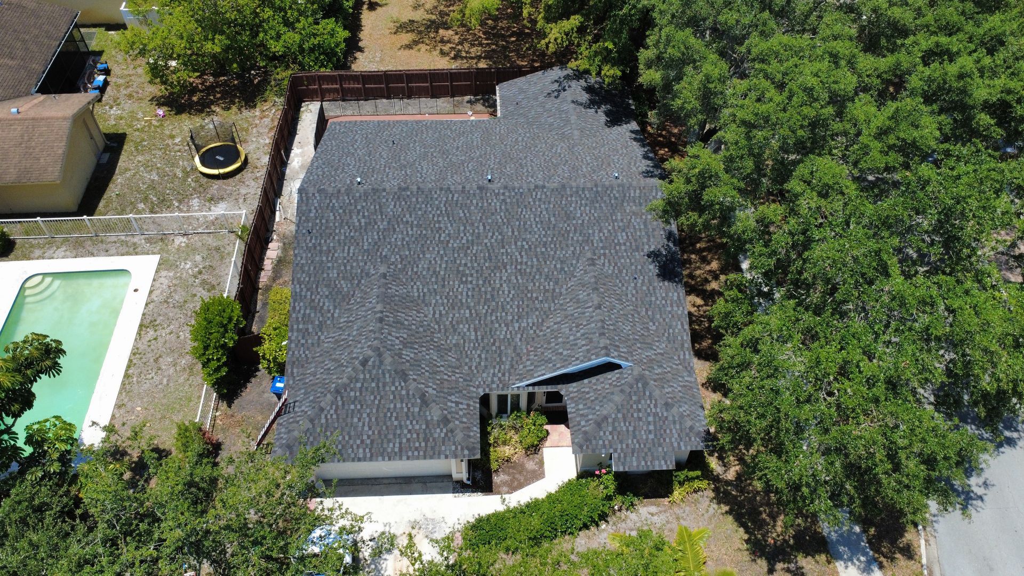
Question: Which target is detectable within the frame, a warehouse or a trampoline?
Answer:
trampoline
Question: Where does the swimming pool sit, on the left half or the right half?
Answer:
left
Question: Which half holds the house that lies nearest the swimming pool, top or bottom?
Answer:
top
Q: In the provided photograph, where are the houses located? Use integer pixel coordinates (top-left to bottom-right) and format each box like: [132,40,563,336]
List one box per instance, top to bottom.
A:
[0,0,114,213]
[270,63,709,496]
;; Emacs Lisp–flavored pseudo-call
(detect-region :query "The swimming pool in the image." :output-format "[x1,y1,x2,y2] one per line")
[0,270,131,472]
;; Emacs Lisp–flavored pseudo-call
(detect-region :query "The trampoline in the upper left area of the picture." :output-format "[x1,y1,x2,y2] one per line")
[181,113,248,183]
